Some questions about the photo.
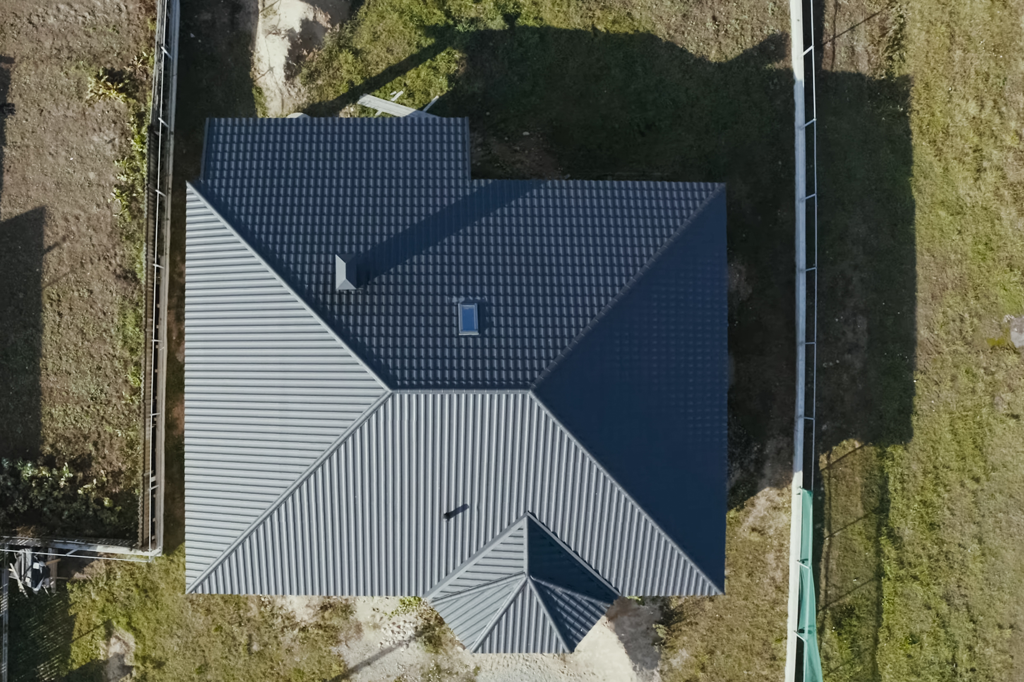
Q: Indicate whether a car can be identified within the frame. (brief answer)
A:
No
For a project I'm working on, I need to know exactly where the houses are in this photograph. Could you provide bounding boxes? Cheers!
[184,116,727,655]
